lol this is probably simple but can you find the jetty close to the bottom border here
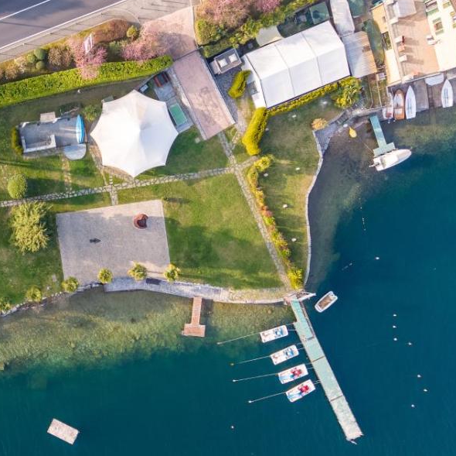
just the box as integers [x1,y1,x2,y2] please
[291,297,363,445]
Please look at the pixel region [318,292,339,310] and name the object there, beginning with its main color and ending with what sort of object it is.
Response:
white boat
